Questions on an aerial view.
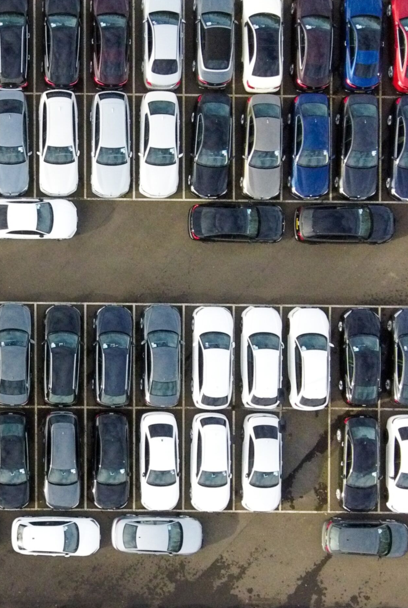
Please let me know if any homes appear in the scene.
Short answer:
No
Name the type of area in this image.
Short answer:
parking lot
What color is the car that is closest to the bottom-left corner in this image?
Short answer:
white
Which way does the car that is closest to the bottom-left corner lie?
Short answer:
from left to right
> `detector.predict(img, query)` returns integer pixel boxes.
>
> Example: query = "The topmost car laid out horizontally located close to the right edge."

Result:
[291,198,394,247]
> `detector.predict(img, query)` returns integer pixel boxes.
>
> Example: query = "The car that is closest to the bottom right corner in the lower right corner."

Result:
[318,516,408,562]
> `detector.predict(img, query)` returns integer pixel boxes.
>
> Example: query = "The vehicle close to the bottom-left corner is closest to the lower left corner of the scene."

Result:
[11,514,99,560]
